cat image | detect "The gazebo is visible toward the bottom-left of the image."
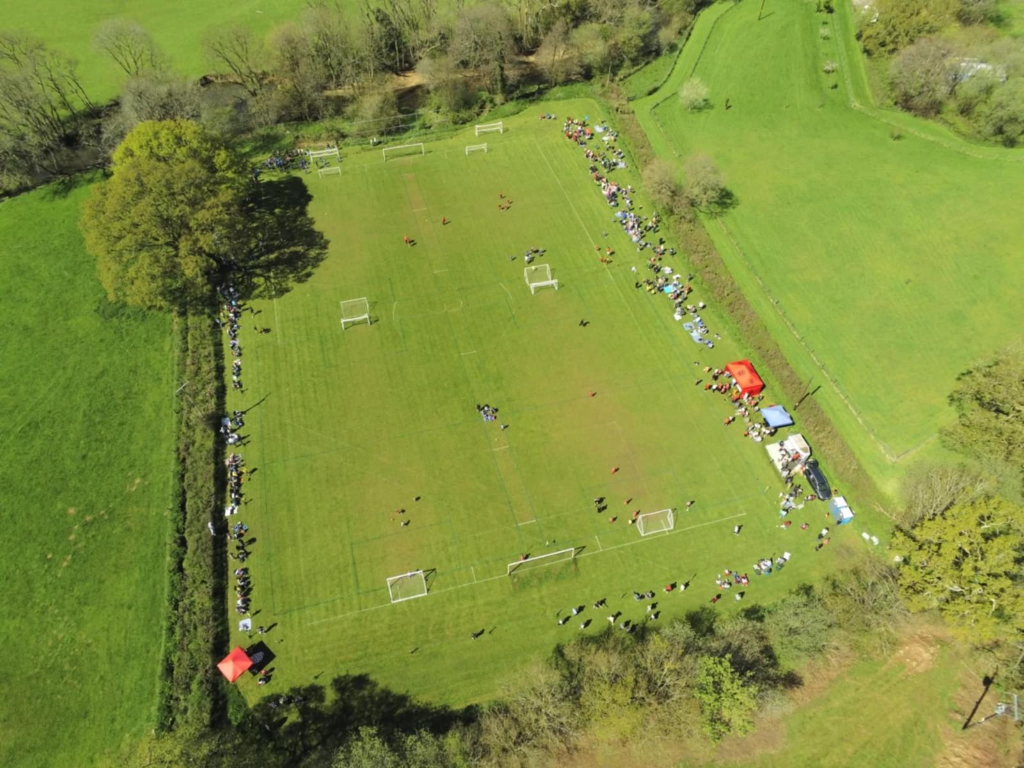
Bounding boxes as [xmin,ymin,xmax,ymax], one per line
[218,647,258,684]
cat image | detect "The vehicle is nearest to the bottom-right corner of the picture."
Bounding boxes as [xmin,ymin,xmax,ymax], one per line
[802,456,834,501]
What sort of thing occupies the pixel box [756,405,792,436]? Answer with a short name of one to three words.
gazebo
